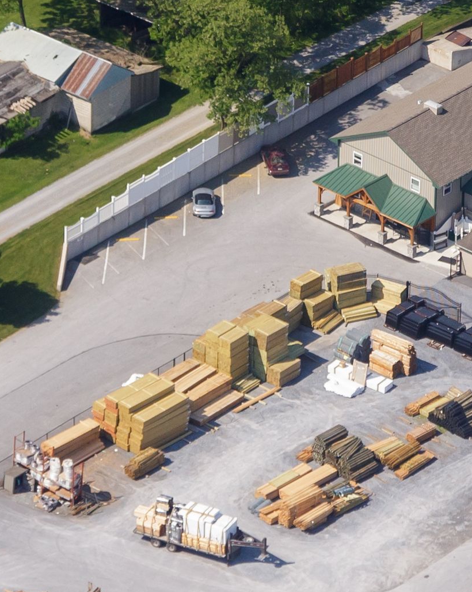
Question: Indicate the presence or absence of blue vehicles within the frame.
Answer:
No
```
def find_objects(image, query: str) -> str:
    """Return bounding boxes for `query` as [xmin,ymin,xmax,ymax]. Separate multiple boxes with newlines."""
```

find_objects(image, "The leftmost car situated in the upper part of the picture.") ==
[191,188,216,218]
